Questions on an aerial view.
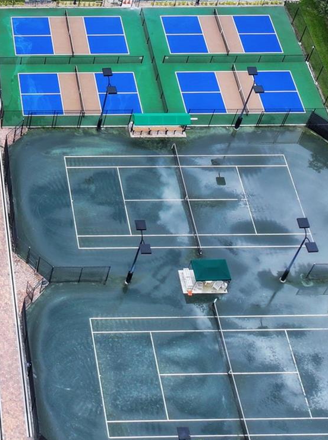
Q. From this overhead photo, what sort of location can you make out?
sports ground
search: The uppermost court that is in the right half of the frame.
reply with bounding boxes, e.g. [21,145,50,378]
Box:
[160,8,284,54]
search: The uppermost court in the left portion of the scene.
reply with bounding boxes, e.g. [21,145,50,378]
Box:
[11,10,130,57]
